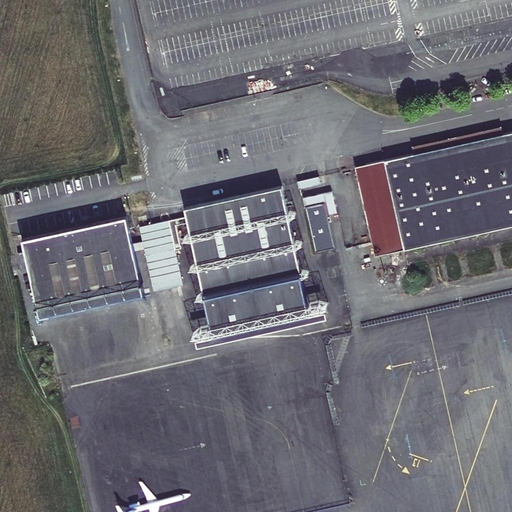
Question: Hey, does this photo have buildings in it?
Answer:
Yes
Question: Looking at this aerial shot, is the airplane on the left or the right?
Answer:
left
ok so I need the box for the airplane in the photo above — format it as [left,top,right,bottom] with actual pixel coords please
[116,481,191,512]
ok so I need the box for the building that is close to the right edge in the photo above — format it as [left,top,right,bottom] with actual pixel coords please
[356,128,512,256]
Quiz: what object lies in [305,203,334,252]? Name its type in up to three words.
building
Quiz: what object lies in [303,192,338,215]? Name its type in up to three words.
building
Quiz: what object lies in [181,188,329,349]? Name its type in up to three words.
hangar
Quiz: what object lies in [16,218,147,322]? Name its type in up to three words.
hangar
